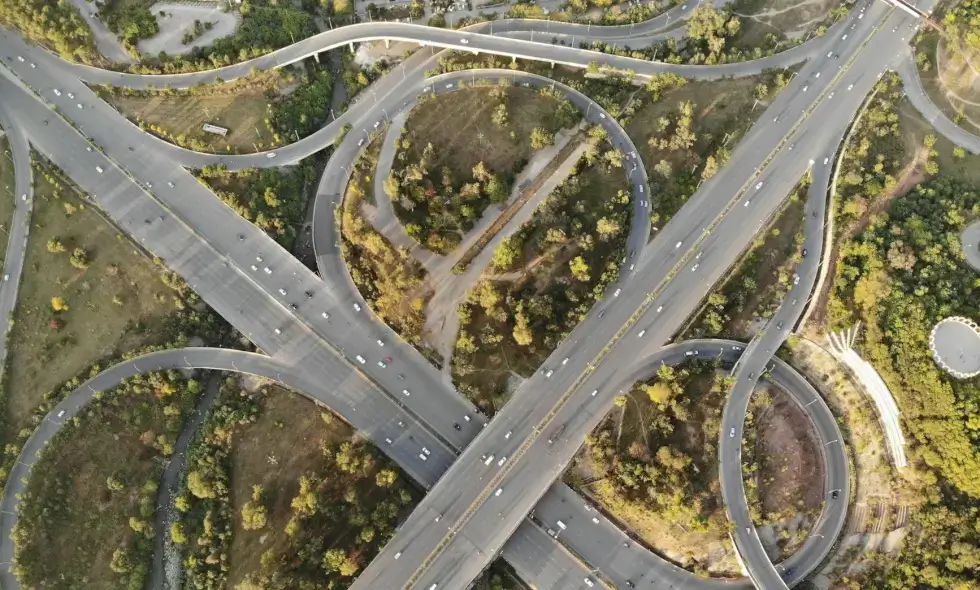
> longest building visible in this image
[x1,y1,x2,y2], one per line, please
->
[827,320,906,468]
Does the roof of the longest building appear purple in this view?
No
